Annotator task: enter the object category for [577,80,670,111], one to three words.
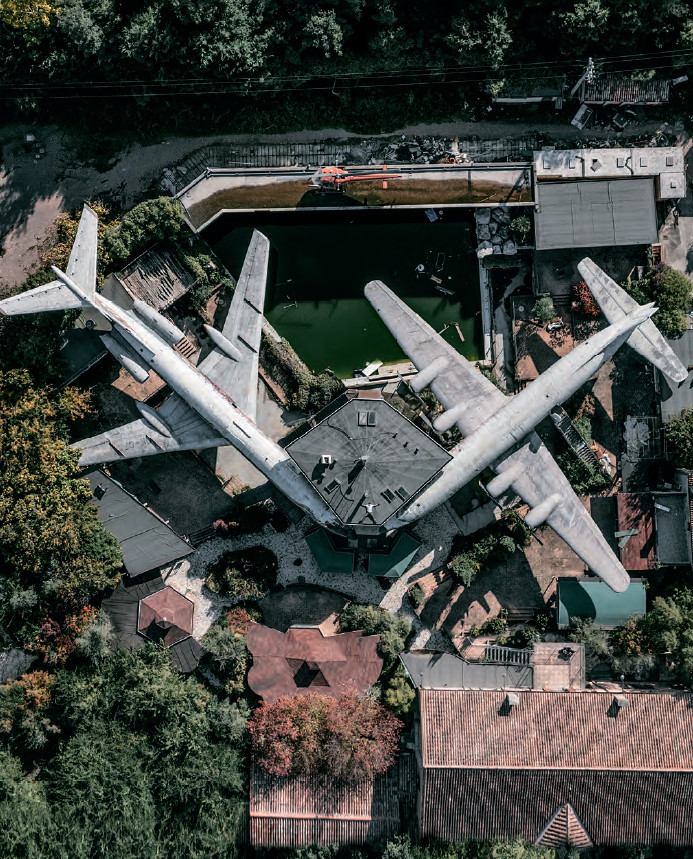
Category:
shed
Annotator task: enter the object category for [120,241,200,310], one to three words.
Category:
shed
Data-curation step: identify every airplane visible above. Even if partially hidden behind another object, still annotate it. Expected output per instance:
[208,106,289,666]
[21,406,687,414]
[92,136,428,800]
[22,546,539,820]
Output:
[368,259,687,586]
[0,205,351,534]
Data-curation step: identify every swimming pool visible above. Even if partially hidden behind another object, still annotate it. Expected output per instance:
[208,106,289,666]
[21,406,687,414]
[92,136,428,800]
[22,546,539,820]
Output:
[196,209,487,395]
